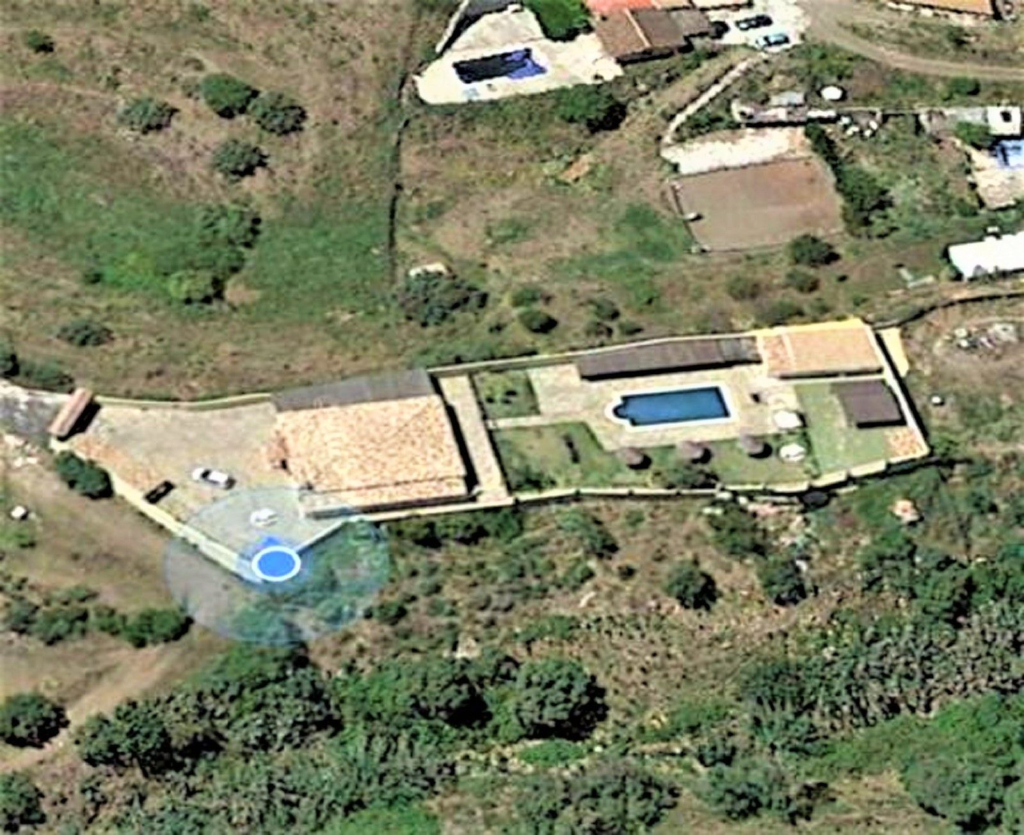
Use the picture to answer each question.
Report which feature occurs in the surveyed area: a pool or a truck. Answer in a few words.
pool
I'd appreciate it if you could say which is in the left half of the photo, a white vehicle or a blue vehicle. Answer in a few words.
white vehicle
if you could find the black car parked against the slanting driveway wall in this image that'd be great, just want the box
[142,475,178,508]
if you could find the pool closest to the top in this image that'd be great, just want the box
[453,49,535,84]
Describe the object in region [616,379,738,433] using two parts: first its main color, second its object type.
blue swimming pool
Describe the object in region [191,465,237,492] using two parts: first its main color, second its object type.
white car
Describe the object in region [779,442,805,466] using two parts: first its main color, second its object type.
white umbrella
